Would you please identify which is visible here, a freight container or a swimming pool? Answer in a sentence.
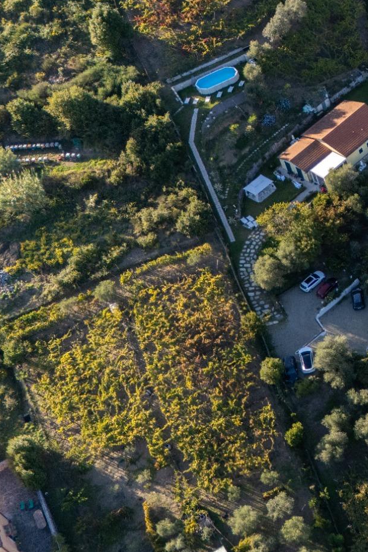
The image shows a swimming pool.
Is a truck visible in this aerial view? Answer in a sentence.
No, there is no truck in the image.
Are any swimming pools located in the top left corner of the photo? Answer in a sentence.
No, in the top left corner of the photo there is no swimming pool.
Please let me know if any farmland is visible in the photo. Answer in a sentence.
Yes, the picture does contain farmland.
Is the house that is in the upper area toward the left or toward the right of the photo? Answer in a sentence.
You can find the house that is in the upper area on the right side of the picture.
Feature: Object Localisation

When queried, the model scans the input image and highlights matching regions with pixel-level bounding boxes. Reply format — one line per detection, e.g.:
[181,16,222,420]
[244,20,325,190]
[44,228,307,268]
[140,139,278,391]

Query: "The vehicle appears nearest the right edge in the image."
[348,284,364,309]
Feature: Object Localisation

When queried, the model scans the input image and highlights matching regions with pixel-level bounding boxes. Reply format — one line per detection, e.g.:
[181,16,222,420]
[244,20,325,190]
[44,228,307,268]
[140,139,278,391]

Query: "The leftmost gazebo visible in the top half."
[243,174,277,206]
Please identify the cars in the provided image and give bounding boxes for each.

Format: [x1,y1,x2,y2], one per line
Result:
[295,343,314,374]
[280,352,300,382]
[348,284,364,309]
[298,267,327,292]
[313,274,341,299]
